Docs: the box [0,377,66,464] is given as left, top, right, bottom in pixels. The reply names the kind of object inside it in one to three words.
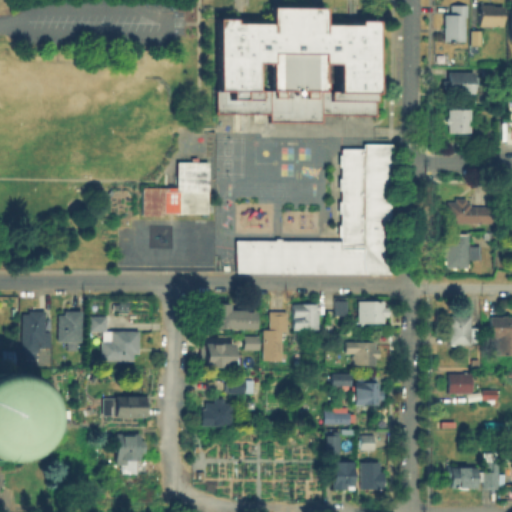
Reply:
water tower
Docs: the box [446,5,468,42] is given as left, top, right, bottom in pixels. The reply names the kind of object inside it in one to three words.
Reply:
house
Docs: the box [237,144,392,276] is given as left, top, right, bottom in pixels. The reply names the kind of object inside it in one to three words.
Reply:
building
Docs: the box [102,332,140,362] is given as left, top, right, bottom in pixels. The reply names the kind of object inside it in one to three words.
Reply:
house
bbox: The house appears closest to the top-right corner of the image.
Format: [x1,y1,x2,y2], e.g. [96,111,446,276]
[482,3,509,27]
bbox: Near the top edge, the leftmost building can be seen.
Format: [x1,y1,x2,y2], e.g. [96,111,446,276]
[218,8,384,122]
